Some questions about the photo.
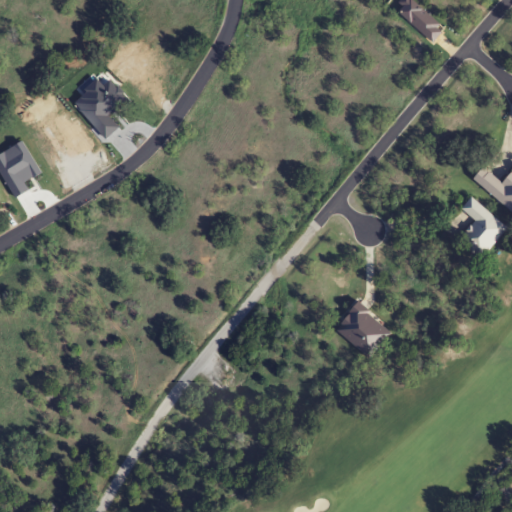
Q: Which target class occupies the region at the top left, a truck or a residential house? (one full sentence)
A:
You can see a residential house at the top left.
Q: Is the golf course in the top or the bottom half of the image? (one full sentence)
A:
You can find the golf course in the bottom half.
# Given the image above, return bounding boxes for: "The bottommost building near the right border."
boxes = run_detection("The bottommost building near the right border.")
[463,197,499,250]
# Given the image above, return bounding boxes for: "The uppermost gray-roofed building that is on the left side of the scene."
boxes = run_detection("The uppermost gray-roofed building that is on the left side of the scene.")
[74,74,130,138]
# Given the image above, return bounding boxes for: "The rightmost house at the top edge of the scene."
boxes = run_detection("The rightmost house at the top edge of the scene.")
[395,0,442,44]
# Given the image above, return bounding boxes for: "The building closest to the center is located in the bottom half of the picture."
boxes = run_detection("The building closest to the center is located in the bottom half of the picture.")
[336,302,391,354]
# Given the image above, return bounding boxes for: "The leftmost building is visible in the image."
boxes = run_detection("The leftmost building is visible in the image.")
[0,142,42,197]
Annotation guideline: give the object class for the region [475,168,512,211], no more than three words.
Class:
house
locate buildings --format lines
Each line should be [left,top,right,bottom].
[336,302,391,354]
[74,74,130,138]
[395,0,442,44]
[475,168,512,211]
[463,197,499,250]
[0,142,42,197]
